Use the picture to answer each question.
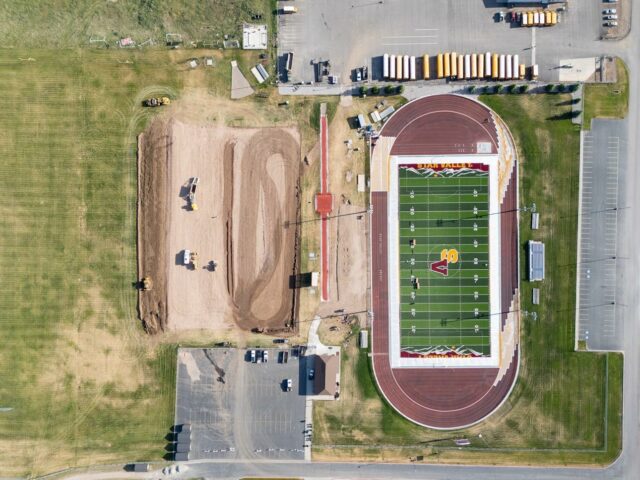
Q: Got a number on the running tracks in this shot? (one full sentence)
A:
The picture shows just 1 running track.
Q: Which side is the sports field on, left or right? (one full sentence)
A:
The sports field sits on the right side.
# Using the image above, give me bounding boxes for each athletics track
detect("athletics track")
[369,94,519,431]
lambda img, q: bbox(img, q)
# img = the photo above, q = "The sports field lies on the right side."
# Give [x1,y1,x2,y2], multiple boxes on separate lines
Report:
[388,155,501,368]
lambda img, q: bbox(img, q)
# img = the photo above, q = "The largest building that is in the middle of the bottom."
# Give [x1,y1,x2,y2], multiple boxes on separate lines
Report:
[310,356,338,397]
